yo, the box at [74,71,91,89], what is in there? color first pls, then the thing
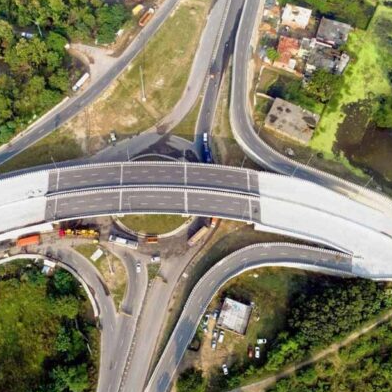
white vehicle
